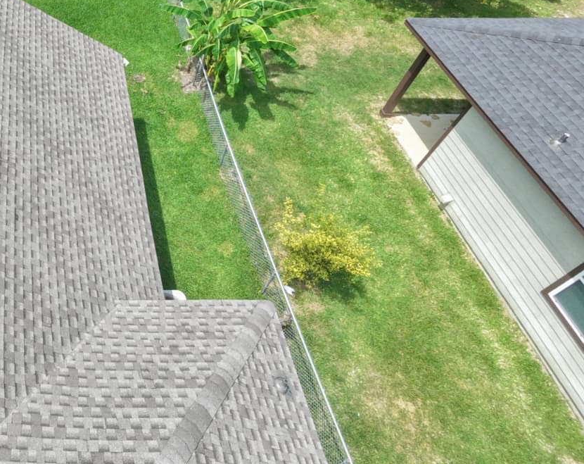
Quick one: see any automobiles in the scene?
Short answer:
No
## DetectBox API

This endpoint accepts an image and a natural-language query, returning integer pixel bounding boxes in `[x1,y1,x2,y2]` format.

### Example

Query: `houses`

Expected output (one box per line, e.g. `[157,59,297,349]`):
[385,18,584,430]
[0,0,328,464]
